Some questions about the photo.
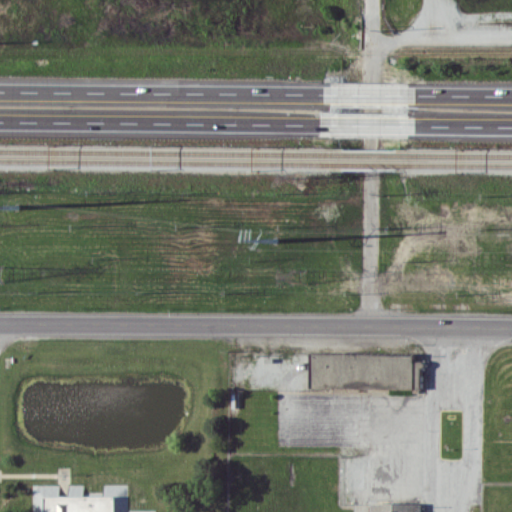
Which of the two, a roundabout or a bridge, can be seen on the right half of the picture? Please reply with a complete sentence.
What appears on the right half of the picture is a bridge.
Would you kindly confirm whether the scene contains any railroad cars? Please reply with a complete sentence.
No, the picture doesn't show any railroad car.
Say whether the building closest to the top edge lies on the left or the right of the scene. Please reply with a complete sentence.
You can find the building closest to the top edge on the right side of the picture.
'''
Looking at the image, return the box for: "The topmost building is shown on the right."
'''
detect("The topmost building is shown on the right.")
[310,354,427,392]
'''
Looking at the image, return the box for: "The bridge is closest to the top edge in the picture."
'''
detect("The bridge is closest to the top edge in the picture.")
[319,84,416,139]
